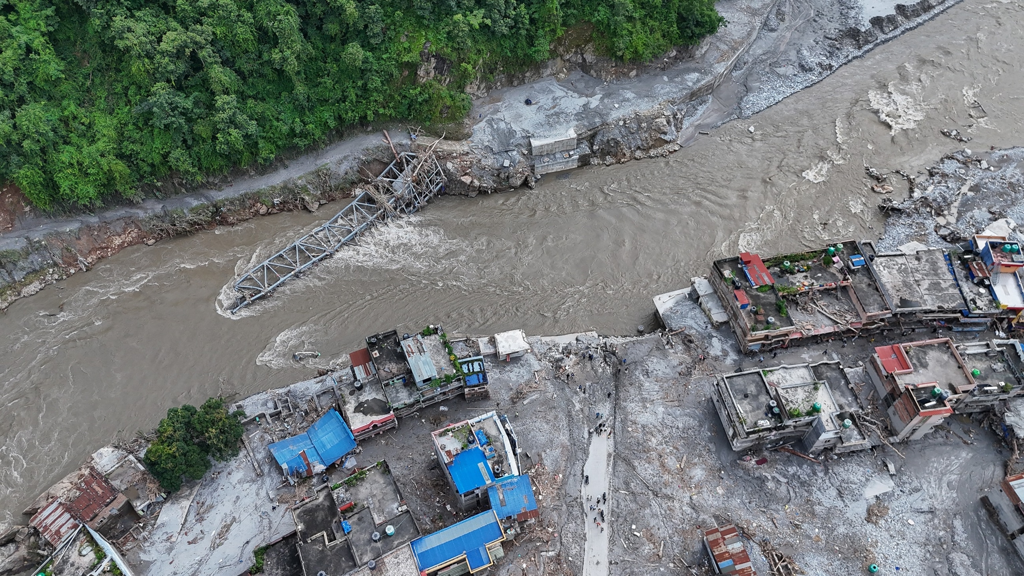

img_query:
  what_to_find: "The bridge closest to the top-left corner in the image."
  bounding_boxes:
[230,151,447,314]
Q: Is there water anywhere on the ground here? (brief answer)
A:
Yes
